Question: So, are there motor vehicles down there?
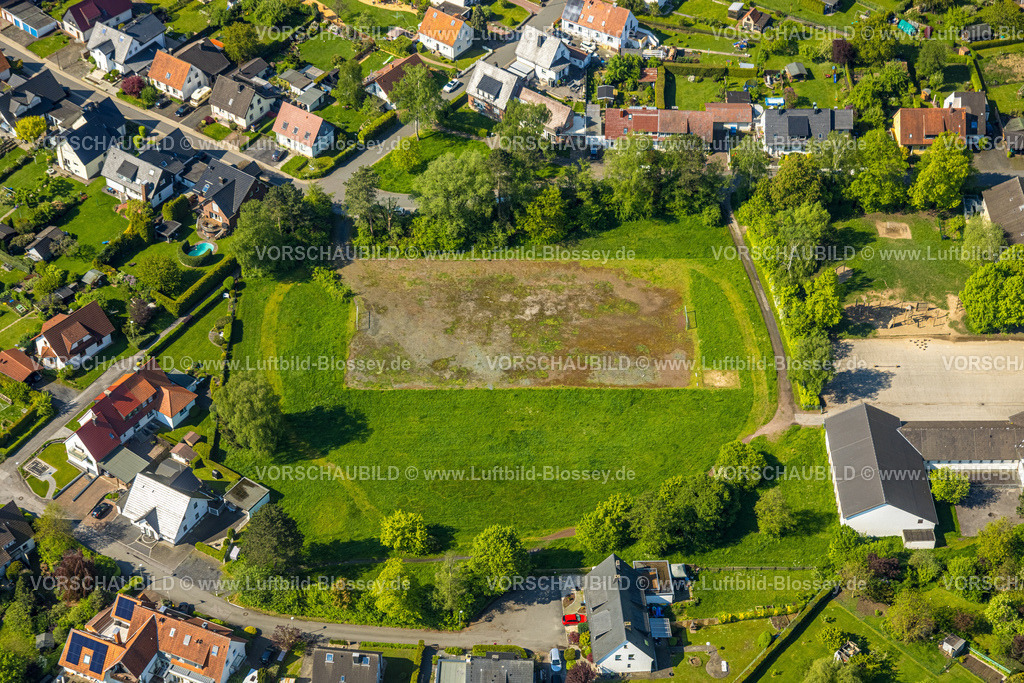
Yes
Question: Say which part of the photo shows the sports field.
center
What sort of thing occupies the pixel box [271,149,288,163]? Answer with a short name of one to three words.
car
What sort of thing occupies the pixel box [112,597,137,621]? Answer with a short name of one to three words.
solar panel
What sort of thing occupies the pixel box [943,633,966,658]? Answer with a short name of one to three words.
shed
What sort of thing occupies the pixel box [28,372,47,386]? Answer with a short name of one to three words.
car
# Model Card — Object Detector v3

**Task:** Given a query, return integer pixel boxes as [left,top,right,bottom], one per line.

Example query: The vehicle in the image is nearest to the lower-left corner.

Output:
[90,504,110,520]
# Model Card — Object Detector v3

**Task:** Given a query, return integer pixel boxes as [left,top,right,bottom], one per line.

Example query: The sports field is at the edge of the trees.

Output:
[346,259,695,391]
